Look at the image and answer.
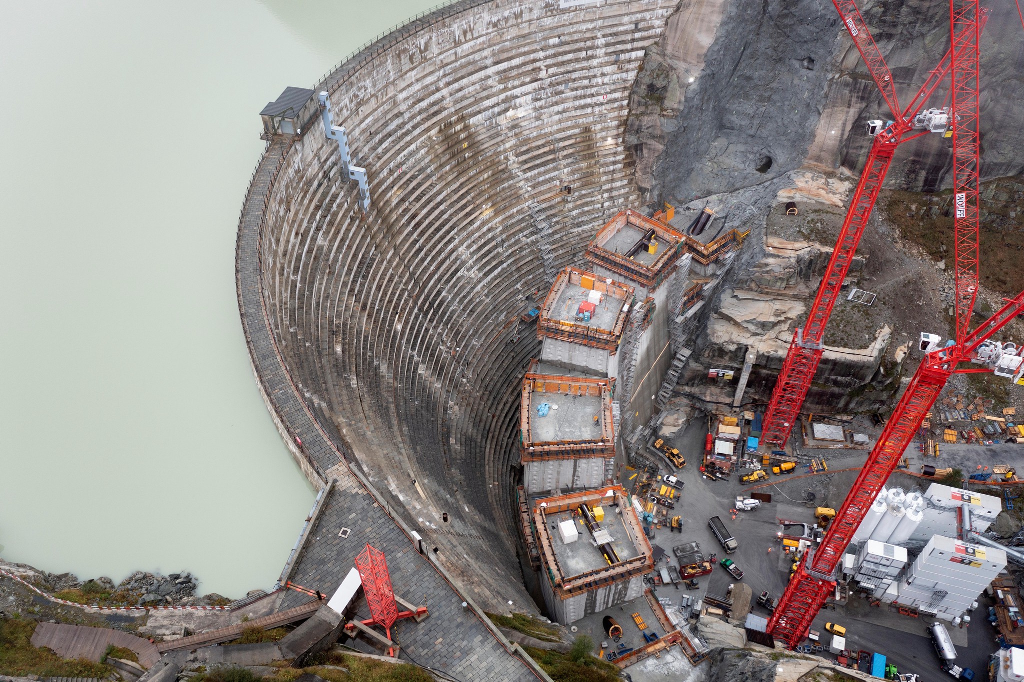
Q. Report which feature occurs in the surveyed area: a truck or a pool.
truck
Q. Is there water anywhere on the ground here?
Yes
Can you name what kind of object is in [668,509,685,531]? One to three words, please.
work vehicle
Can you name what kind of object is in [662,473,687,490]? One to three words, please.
vehicle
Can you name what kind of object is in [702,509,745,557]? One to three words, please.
truck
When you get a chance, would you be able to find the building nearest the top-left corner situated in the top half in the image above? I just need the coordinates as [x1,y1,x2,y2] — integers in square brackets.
[249,87,312,146]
